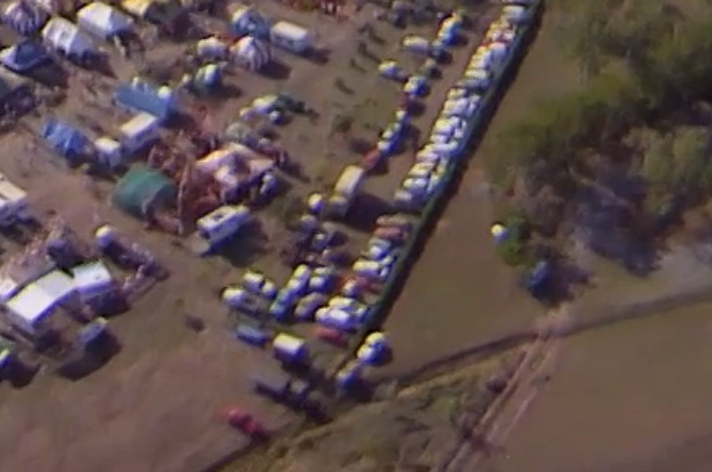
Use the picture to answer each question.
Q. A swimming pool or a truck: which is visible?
truck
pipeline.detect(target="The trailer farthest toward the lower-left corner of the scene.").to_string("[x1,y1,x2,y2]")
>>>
[78,317,118,356]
